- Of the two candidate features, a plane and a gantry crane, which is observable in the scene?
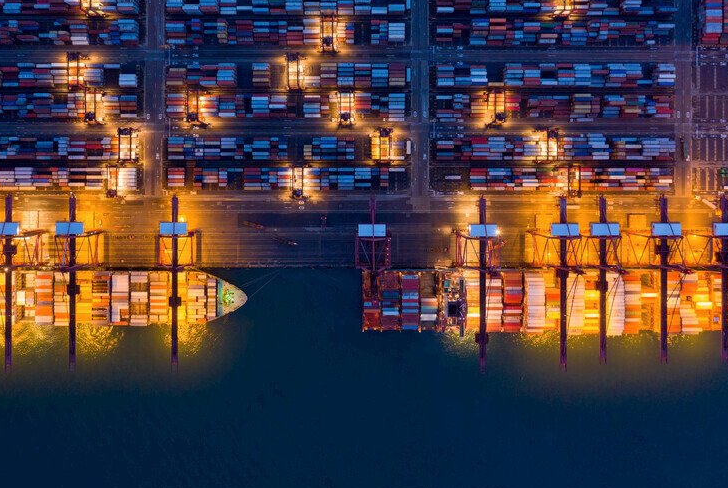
gantry crane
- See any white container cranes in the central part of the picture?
No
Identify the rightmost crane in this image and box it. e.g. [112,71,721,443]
[673,192,728,362]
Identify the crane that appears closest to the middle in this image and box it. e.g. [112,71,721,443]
[345,191,392,306]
